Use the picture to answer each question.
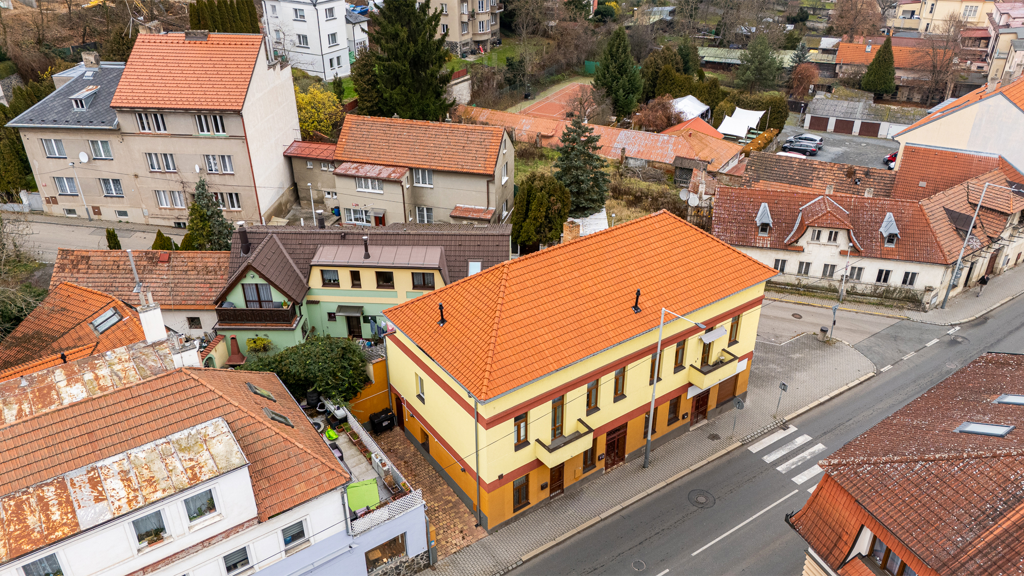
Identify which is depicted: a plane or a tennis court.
tennis court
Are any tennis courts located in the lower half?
No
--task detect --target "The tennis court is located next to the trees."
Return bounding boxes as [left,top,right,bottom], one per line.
[526,82,614,127]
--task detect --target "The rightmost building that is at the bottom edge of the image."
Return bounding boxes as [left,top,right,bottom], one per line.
[771,346,1024,576]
